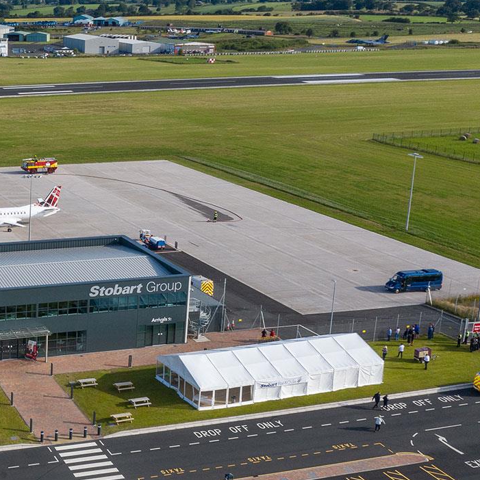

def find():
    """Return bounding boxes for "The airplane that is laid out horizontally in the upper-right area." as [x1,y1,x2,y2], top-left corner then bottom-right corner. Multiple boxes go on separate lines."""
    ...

[352,33,391,46]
